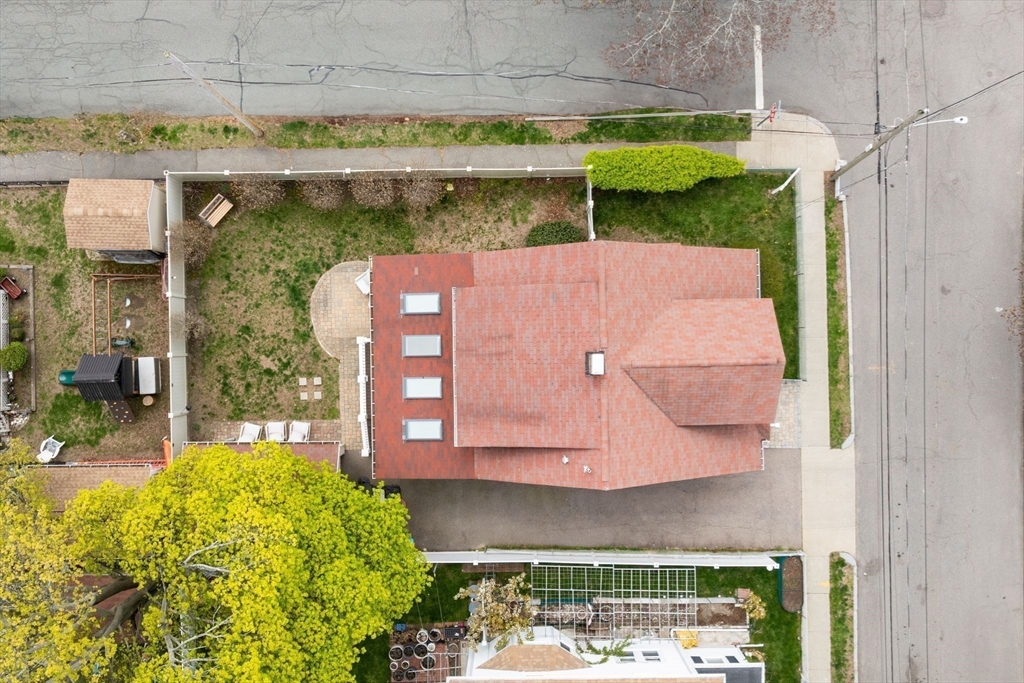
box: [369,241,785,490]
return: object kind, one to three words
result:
house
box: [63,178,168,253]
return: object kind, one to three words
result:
shed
